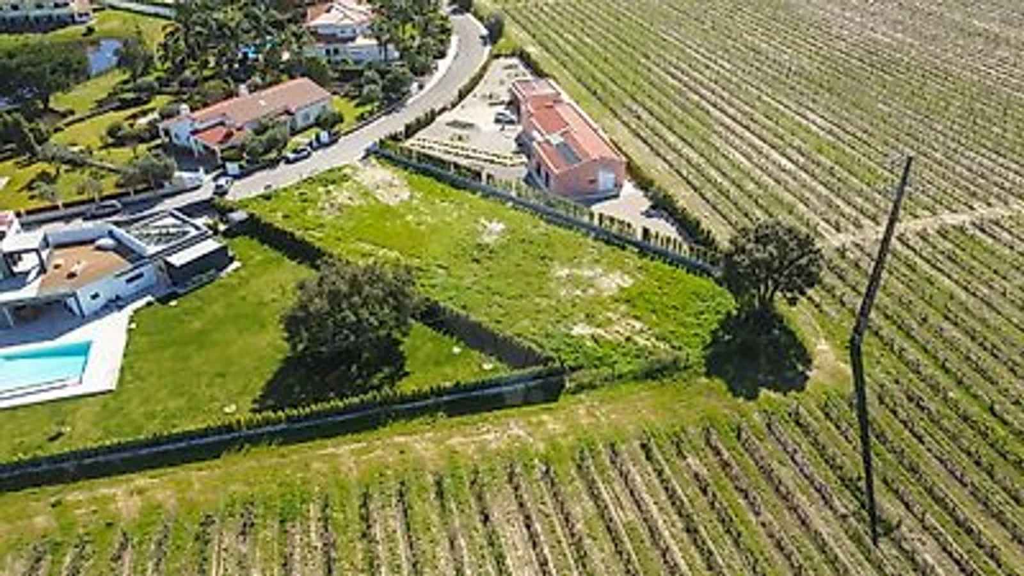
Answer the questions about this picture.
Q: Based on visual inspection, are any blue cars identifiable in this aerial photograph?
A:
No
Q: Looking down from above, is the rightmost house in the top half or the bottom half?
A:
top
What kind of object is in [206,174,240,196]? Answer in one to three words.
car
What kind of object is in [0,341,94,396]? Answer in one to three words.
swimming pool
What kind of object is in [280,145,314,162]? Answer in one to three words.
car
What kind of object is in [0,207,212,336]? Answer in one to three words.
house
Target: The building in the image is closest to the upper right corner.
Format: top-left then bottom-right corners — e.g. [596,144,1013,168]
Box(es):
[504,64,626,199]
